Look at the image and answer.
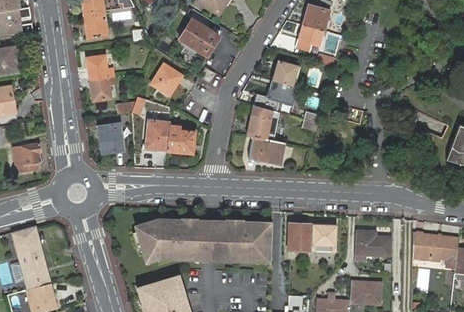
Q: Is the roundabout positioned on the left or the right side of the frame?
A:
left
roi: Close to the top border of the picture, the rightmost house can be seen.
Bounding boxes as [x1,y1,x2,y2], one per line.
[297,4,332,54]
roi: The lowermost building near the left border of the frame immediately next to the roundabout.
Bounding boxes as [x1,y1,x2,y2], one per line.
[11,226,59,312]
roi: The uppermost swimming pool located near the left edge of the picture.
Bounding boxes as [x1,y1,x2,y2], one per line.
[0,261,14,287]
